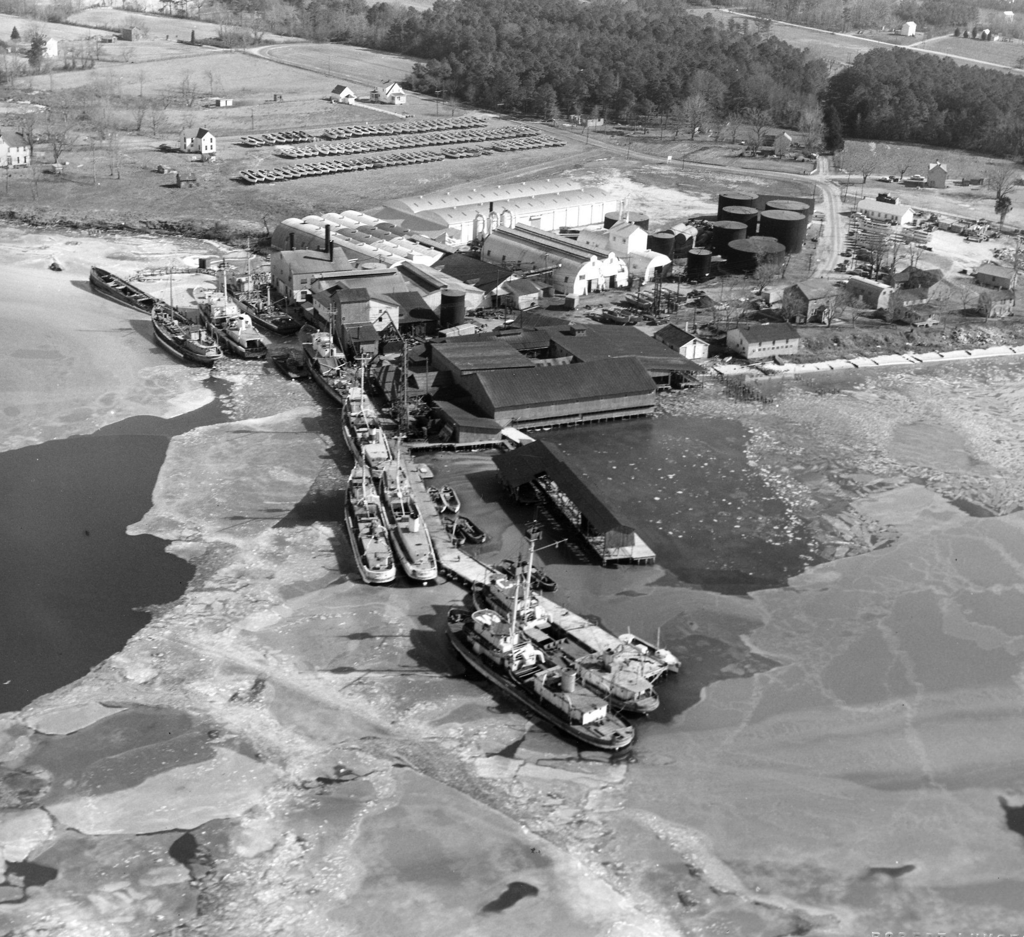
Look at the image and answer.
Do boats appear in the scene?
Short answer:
Yes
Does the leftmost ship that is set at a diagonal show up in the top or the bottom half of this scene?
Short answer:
top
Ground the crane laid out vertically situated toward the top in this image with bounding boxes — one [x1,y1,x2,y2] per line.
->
[366,312,440,435]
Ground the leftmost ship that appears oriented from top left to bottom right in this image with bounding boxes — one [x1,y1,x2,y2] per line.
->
[90,266,170,322]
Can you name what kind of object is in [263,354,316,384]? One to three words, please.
ship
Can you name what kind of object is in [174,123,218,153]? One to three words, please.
house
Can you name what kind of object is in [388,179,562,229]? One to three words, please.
building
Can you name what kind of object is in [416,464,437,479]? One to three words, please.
boat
